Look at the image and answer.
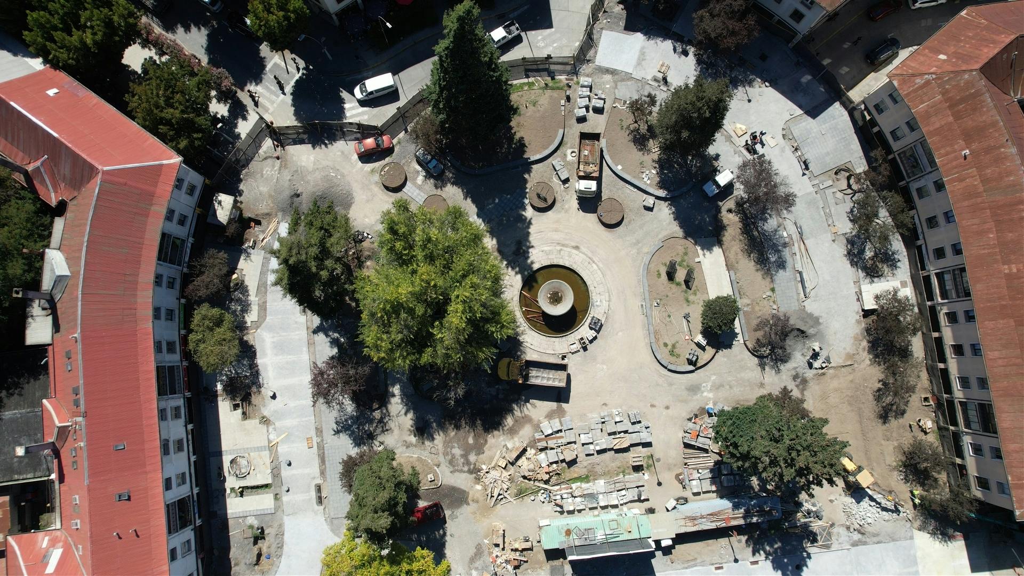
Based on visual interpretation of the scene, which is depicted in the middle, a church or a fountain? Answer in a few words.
fountain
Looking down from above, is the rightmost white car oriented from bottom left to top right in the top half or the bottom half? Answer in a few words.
top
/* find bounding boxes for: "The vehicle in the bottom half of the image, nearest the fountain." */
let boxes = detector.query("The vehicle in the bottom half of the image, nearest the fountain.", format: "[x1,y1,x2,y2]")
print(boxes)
[497,356,571,387]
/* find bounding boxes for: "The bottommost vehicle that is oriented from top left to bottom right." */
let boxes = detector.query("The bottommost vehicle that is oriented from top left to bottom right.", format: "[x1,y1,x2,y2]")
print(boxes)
[832,440,908,510]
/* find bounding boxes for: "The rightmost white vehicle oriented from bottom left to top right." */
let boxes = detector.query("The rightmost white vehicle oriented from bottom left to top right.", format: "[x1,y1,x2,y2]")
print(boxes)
[704,165,740,196]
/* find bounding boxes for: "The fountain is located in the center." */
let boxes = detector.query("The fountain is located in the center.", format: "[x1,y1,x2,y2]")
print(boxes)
[518,263,592,337]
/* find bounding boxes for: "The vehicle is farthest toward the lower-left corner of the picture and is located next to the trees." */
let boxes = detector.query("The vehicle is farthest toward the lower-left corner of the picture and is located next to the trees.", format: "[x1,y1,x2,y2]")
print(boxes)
[404,502,450,529]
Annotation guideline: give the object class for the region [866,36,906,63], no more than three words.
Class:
car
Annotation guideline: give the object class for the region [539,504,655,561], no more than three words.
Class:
shed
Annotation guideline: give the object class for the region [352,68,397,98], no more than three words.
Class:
van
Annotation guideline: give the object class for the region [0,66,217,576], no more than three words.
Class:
building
